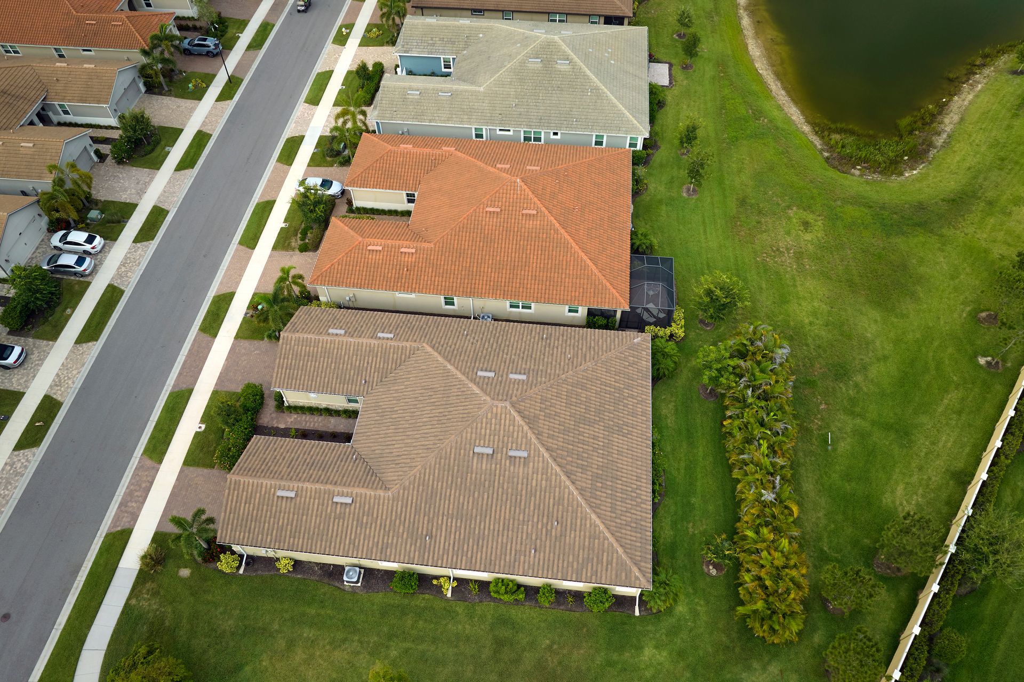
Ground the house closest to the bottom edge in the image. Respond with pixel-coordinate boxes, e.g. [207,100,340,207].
[216,305,654,600]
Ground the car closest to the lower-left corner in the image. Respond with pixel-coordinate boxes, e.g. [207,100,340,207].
[0,341,32,373]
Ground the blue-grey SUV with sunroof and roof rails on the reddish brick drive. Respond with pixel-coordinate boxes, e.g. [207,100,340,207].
[178,34,227,59]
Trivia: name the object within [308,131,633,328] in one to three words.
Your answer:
house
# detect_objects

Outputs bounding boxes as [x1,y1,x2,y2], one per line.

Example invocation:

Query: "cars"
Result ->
[292,175,349,201]
[0,341,32,373]
[178,34,227,59]
[47,230,111,256]
[38,251,102,280]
